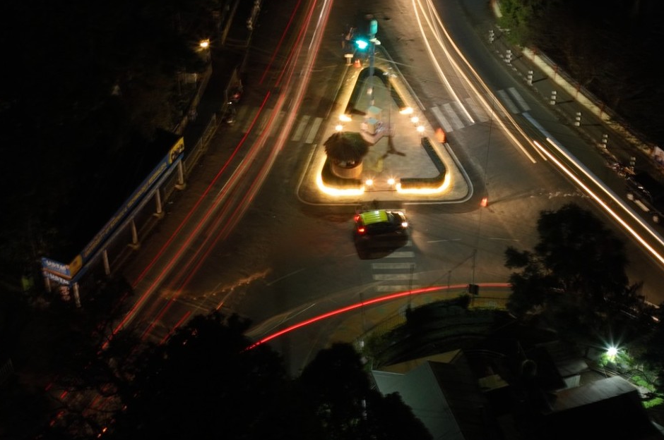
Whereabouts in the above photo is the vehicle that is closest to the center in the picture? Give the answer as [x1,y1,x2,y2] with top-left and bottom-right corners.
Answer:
[352,204,411,238]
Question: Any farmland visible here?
No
